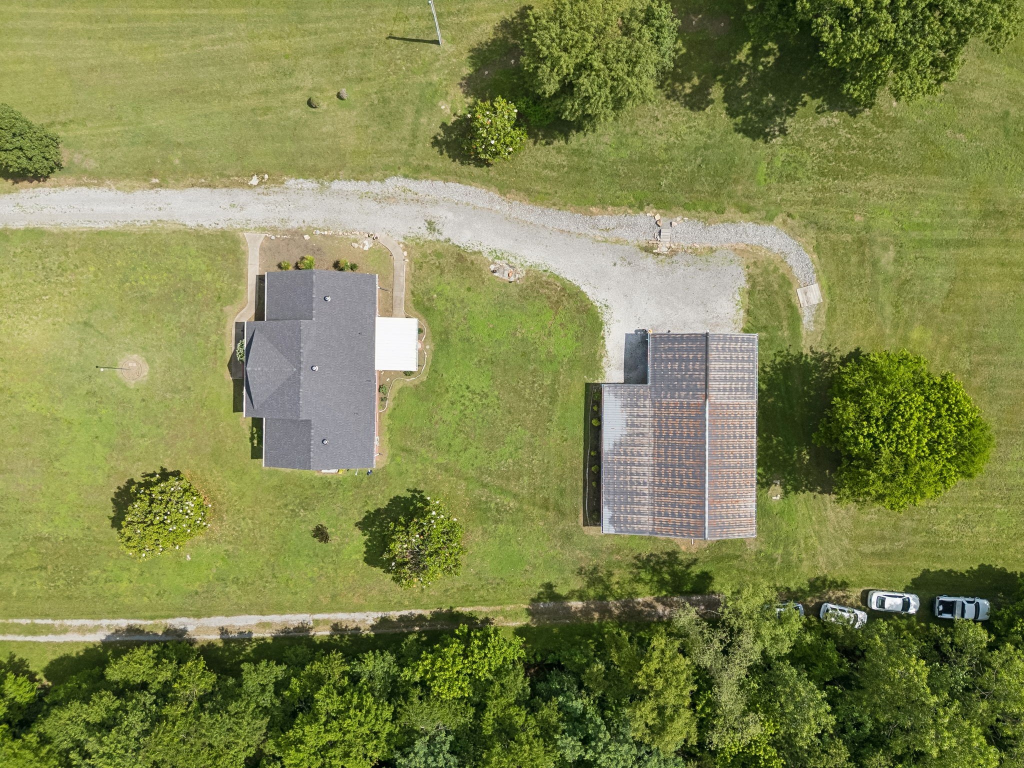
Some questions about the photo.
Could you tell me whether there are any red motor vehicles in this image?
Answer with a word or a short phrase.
No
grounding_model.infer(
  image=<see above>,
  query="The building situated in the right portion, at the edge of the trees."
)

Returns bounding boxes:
[600,328,760,541]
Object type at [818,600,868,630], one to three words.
car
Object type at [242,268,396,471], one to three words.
house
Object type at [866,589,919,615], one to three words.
car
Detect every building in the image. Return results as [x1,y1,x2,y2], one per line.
[242,268,396,471]
[600,328,760,541]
